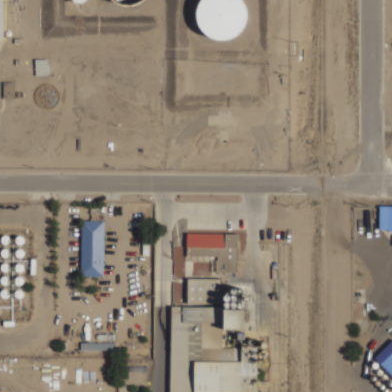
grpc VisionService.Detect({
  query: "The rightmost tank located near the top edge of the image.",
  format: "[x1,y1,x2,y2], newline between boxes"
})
[196,0,248,42]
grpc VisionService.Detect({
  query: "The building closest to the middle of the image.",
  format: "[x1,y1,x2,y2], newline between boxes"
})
[186,234,237,274]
